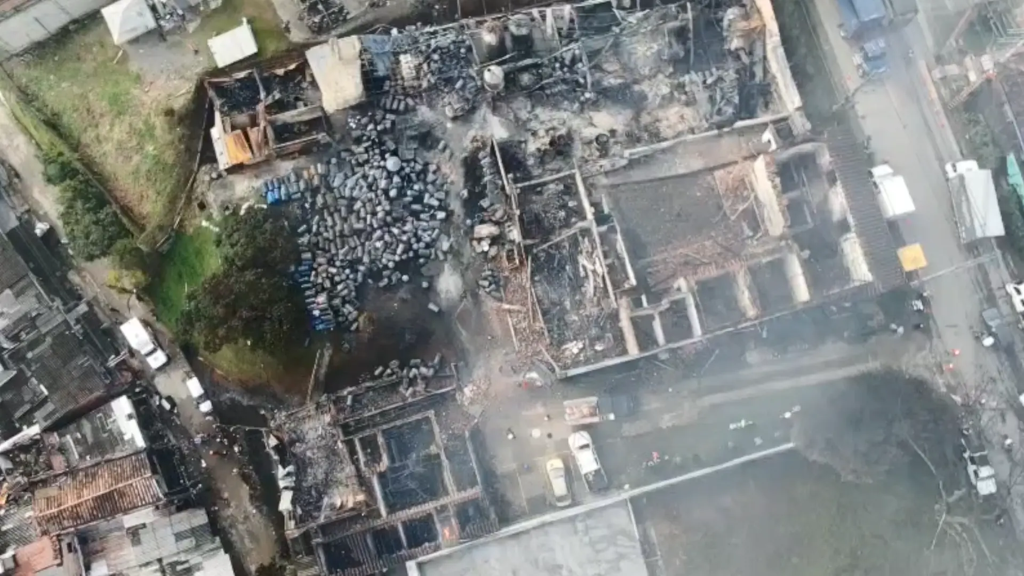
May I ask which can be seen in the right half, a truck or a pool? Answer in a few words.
truck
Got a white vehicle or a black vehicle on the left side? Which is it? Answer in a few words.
white vehicle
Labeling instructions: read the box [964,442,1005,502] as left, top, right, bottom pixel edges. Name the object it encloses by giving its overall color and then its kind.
white truck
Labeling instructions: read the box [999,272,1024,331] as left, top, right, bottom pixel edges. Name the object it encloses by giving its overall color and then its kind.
white vehicle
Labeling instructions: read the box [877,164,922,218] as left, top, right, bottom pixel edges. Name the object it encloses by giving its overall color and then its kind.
white truck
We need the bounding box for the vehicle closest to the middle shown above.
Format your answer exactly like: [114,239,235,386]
[564,395,637,426]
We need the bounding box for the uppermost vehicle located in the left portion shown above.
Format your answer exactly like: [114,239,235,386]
[111,316,166,371]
